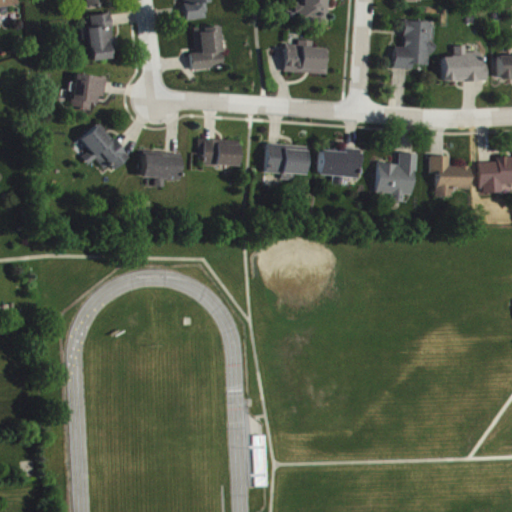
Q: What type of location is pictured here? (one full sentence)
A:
The picture captures a sports ground.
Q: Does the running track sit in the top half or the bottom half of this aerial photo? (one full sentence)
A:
The running track is in the bottom half of the image.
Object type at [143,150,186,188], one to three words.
house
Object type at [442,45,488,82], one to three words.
house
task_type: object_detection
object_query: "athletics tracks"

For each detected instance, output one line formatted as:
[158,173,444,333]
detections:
[67,269,251,512]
